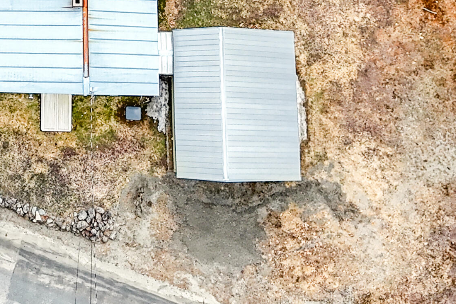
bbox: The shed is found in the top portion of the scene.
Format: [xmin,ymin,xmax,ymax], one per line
[164,26,302,183]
